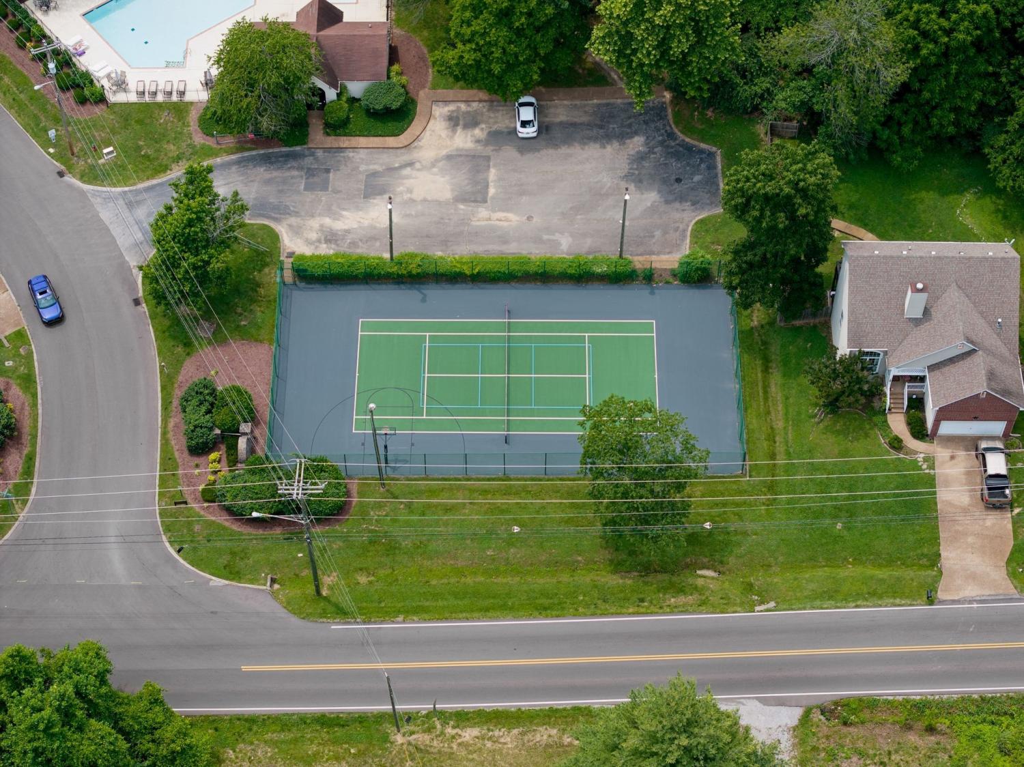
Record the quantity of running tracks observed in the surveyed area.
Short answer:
none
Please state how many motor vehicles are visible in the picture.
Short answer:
3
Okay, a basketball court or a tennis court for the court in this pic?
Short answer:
tennis court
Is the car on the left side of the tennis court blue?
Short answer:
Yes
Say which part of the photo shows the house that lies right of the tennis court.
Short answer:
right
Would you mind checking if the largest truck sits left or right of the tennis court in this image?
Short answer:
on the right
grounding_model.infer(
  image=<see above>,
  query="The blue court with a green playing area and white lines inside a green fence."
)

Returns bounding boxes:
[269,282,745,479]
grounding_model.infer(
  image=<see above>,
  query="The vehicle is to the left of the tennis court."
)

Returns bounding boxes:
[28,275,64,326]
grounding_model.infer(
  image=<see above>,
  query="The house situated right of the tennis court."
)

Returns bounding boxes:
[829,241,1024,437]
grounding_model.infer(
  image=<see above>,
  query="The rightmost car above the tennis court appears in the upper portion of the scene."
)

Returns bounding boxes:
[514,97,539,140]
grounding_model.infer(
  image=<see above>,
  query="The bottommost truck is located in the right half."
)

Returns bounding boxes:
[976,439,1012,509]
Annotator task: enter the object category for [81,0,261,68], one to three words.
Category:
swimming pool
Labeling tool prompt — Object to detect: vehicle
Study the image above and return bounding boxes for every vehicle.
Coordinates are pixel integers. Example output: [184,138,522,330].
[28,275,64,326]
[976,439,1012,509]
[514,97,539,140]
